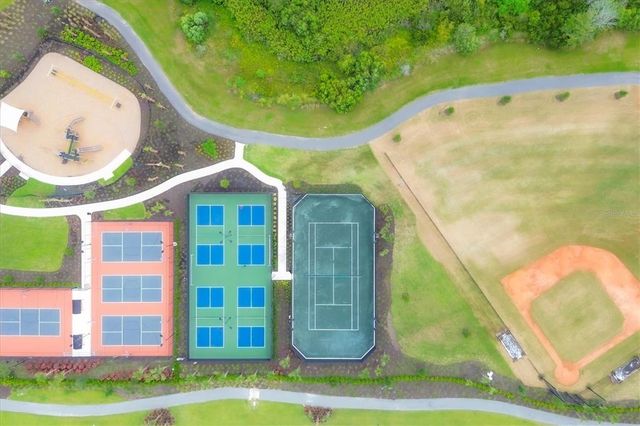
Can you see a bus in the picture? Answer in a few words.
No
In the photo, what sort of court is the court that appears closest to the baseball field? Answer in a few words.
tennis court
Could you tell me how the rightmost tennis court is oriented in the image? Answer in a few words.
from top to bottom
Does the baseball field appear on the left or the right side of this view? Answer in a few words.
right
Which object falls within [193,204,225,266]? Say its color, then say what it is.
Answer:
blue sports court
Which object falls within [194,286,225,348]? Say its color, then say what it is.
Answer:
blue sports court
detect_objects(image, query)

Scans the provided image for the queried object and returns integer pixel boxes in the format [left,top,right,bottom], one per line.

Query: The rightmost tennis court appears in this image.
[293,195,374,359]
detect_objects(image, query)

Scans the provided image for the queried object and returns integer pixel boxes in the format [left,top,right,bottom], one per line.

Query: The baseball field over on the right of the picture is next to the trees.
[370,84,640,400]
